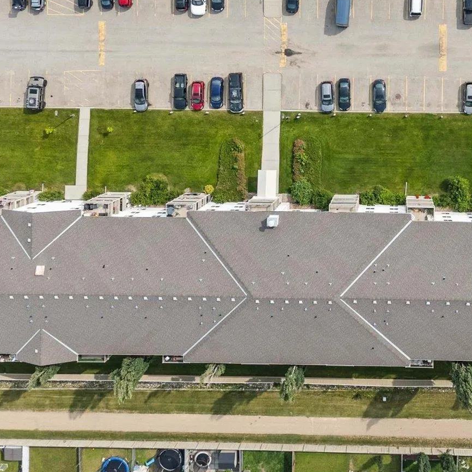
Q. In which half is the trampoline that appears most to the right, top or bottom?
bottom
